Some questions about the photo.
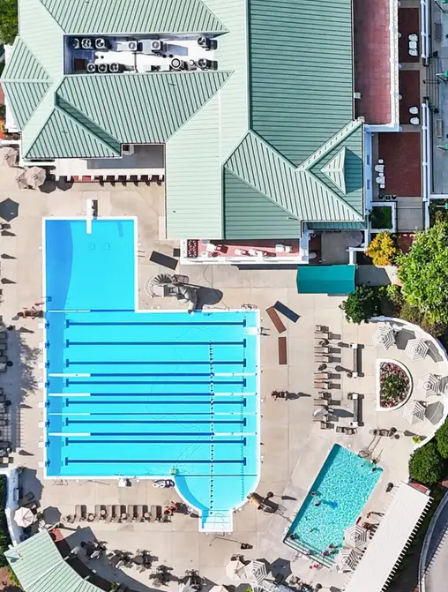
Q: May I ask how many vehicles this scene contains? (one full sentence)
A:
There are no vehicles in the image.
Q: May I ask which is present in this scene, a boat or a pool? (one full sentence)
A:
The image shows a pool.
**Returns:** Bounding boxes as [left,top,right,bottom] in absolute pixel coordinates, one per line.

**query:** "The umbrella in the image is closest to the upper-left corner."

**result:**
[0,144,24,169]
